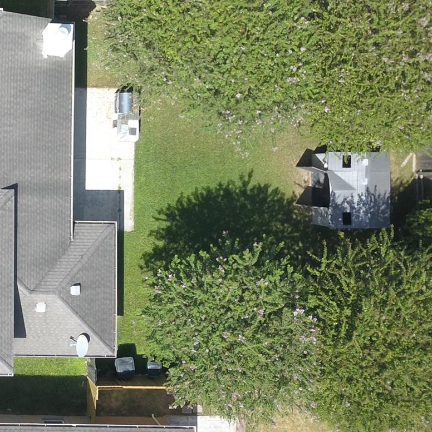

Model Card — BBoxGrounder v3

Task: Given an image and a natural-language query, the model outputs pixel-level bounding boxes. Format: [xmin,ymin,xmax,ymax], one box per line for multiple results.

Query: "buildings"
[0,405,199,432]
[0,6,119,377]
[296,150,390,229]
